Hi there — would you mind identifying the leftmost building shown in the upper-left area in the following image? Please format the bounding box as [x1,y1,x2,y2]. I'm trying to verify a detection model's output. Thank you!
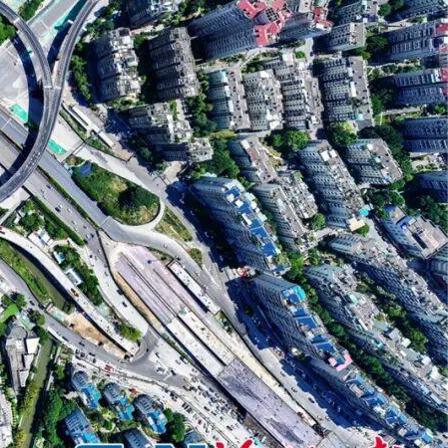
[99,32,141,98]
